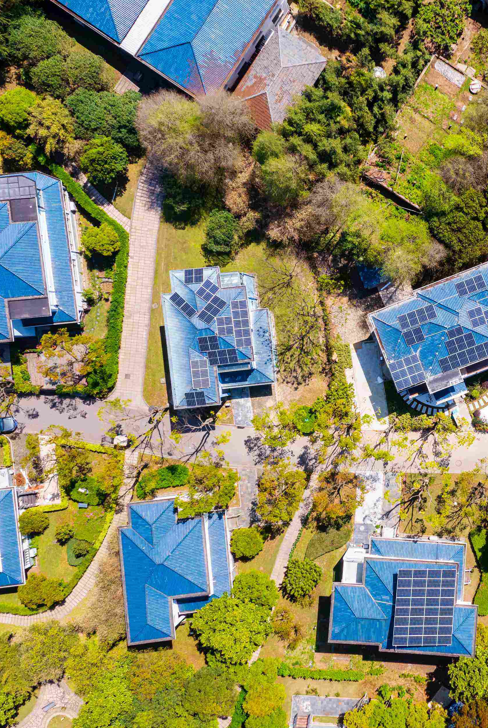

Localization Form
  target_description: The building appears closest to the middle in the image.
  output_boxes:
[158,265,280,410]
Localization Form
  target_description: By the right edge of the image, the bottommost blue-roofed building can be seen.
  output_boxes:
[328,533,479,660]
